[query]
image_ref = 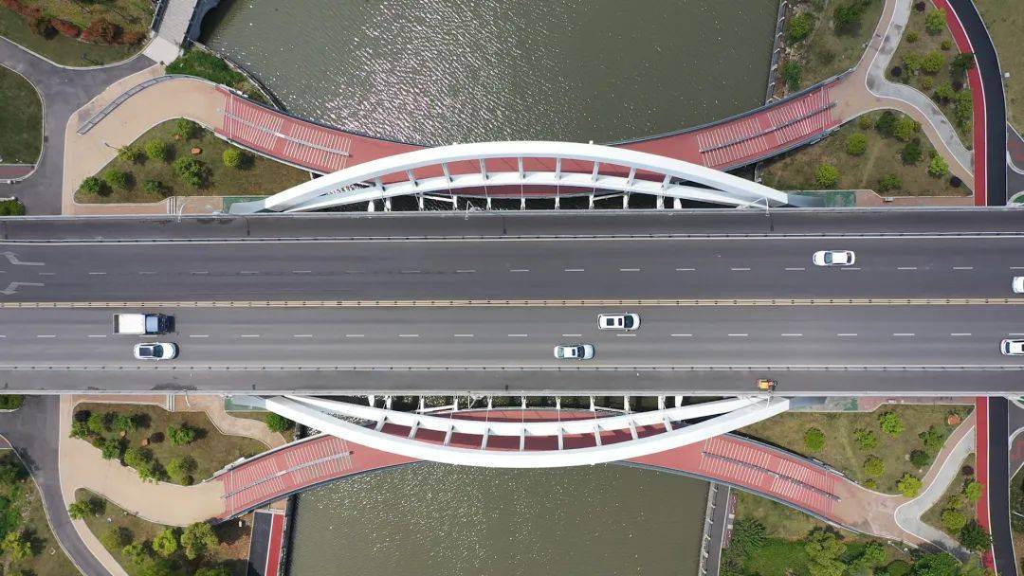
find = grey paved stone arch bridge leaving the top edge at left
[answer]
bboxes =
[150,0,210,50]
